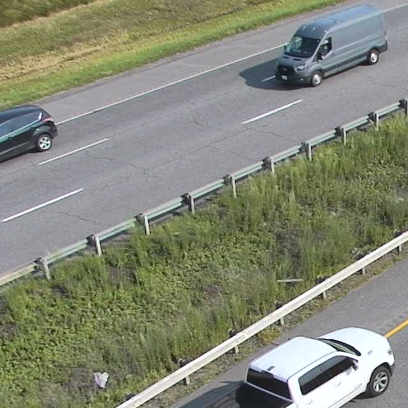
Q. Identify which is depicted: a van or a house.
van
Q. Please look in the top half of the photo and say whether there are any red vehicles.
No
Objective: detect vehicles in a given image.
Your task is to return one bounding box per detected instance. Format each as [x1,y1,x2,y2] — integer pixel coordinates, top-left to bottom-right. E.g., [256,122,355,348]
[0,103,56,160]
[201,328,397,408]
[270,2,389,86]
